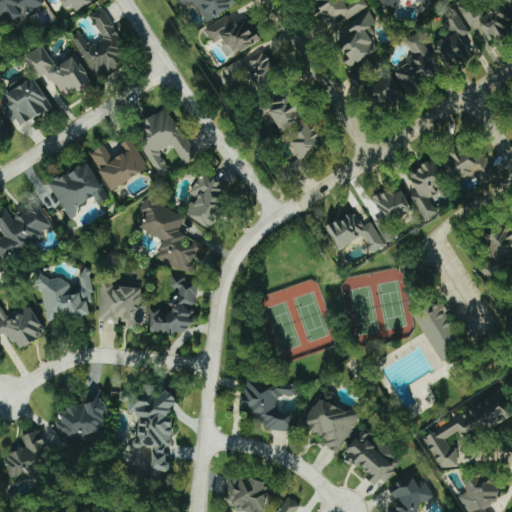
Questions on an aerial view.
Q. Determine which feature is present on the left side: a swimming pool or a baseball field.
swimming pool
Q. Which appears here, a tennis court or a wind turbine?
tennis court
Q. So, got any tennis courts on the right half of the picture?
Yes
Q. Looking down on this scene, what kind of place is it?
residential area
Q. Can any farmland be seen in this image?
No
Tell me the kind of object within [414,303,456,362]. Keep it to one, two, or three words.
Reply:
building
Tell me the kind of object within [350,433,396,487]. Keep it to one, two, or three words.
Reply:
house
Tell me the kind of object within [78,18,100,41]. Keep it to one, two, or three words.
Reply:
swimming pool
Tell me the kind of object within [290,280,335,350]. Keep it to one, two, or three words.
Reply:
tennis court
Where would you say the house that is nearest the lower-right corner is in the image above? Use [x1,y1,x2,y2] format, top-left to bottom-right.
[460,480,499,512]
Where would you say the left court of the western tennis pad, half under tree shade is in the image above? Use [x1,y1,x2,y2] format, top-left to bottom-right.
[266,290,312,358]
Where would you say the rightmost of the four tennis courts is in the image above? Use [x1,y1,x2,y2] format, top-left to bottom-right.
[374,270,413,340]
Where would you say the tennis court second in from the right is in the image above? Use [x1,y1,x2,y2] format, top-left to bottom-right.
[344,274,386,344]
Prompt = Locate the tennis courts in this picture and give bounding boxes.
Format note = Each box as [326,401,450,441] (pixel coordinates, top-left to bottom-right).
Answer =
[290,280,335,350]
[344,274,386,344]
[266,290,312,358]
[374,270,413,340]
